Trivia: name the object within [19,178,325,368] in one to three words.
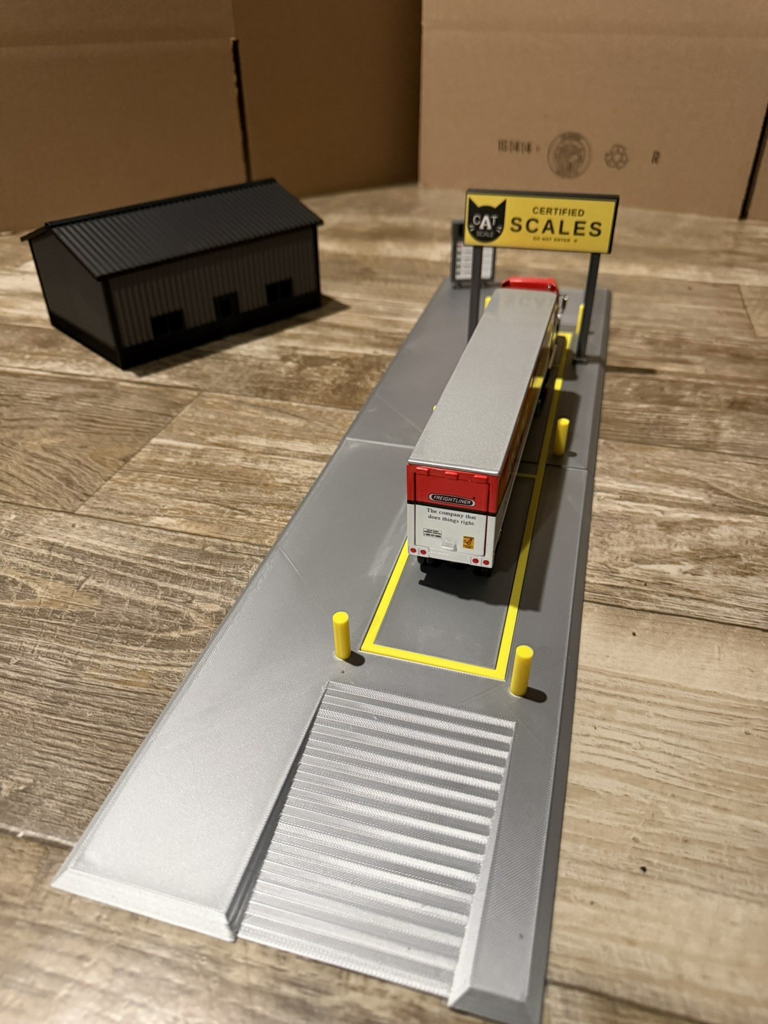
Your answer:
shed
